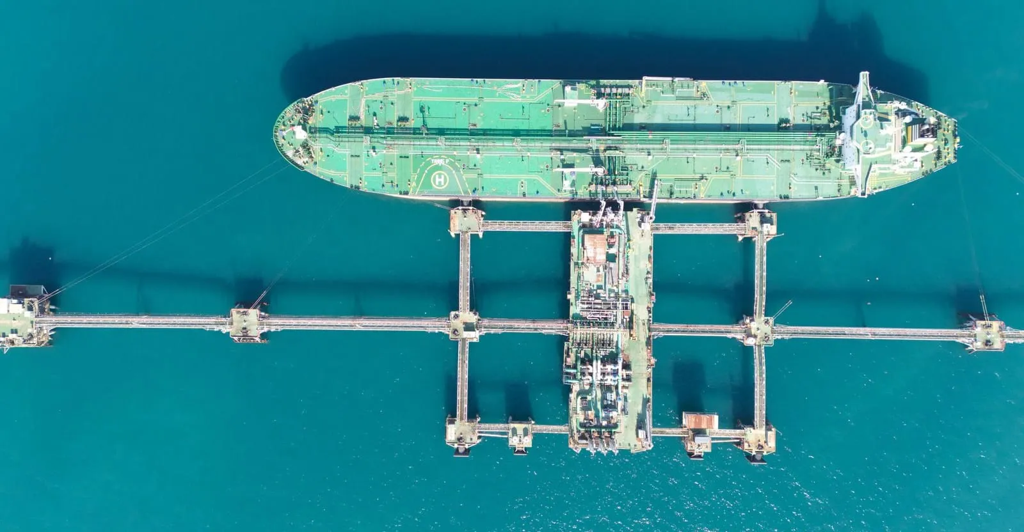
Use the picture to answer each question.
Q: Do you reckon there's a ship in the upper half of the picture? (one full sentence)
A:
Yes, you'll find a ship in the upper half of the picture.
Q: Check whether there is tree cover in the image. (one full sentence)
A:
No, tree cover can't be seen anywhere here.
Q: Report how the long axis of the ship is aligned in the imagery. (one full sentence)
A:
The ship has been laid out from left to right relative to the frame.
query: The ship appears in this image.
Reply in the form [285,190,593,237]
[273,70,962,202]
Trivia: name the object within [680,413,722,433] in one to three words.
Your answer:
shed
